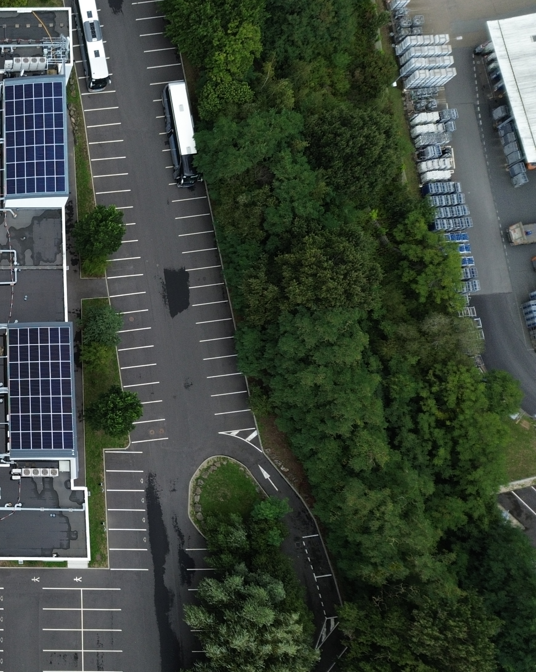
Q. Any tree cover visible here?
Yes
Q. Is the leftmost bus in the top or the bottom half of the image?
top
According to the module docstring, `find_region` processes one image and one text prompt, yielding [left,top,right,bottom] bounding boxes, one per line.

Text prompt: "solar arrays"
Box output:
[5,82,65,196]
[8,326,73,449]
